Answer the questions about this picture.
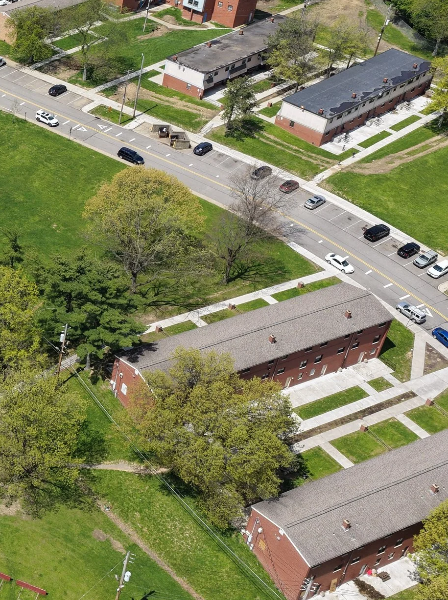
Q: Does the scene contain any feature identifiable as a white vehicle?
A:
Yes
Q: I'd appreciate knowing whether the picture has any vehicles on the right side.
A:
Yes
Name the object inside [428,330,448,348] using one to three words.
car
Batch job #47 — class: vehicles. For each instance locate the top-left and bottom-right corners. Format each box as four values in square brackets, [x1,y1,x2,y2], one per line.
[394,242,423,259]
[36,110,60,126]
[393,303,430,324]
[118,146,143,165]
[323,254,356,274]
[363,224,391,241]
[278,180,302,194]
[425,261,448,278]
[412,248,441,268]
[0,56,7,66]
[302,196,327,210]
[428,330,448,348]
[192,141,214,155]
[48,85,68,97]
